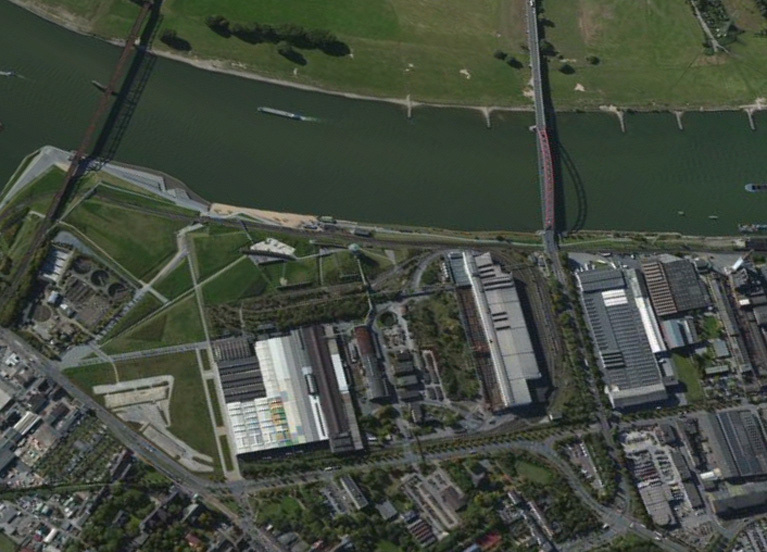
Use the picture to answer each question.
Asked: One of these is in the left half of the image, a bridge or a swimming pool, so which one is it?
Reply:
bridge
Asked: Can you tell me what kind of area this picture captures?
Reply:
port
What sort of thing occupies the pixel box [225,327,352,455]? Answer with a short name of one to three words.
building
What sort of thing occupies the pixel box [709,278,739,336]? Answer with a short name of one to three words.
shed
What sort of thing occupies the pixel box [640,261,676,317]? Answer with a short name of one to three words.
building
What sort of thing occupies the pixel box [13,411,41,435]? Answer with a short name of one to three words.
shed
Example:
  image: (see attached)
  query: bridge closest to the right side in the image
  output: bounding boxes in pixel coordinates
[529,0,556,252]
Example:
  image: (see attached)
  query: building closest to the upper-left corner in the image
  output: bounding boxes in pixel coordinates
[42,249,73,282]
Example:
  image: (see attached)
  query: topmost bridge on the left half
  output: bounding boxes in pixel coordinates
[47,0,147,222]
